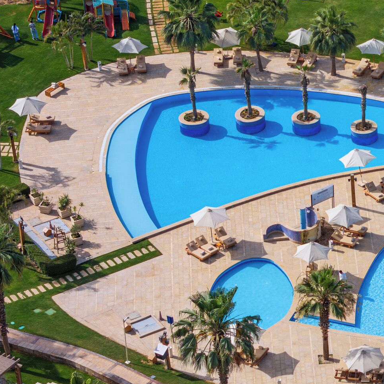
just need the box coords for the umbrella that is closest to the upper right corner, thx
[355,36,384,70]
